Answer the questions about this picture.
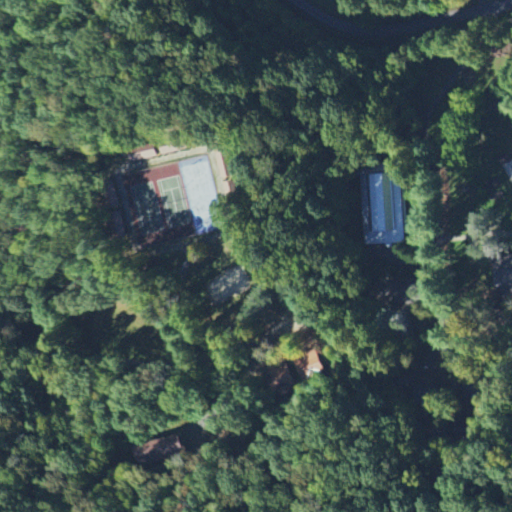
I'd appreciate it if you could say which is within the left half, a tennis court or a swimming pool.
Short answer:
tennis court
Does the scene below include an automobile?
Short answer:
No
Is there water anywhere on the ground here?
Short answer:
No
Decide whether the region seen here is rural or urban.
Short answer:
rural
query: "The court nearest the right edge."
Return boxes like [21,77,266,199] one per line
[179,155,224,234]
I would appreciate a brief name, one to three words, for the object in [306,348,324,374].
house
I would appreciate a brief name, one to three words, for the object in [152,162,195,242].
tennis court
